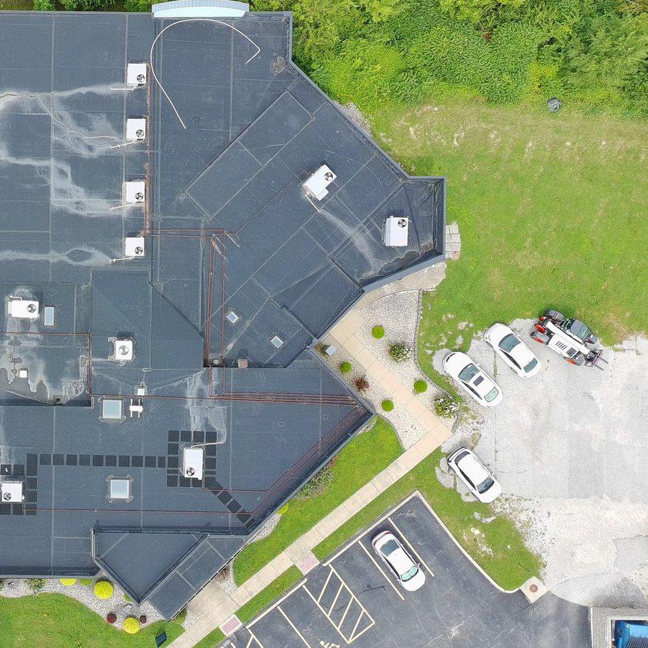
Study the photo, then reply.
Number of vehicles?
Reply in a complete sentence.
The photo contains 5 vehicles.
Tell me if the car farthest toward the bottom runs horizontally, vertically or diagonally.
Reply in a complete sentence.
The car farthest toward the bottom has been laid out diagonally relative to the frame.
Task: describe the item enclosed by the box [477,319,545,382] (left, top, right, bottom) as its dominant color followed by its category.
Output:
white car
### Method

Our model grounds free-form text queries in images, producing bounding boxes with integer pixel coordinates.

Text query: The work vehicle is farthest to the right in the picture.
[523,304,602,374]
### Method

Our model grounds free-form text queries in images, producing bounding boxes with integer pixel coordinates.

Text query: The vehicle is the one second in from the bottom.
[443,444,503,505]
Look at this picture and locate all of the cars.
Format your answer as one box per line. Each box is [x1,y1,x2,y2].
[439,347,506,411]
[443,444,503,505]
[477,319,545,382]
[368,526,427,593]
